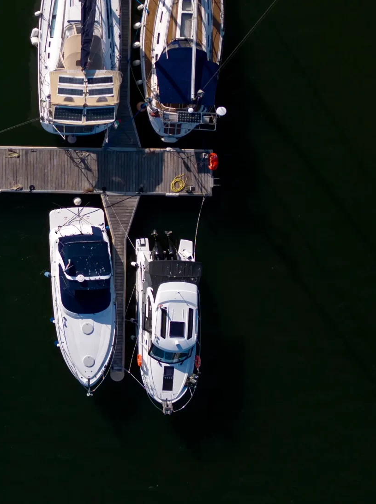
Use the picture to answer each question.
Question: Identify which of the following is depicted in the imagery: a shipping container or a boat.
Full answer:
Of the two, only a boat appears.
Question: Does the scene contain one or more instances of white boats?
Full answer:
Yes, a white boat can be made out from above.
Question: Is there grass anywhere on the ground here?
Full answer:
No, grass can't be seen anywhere here.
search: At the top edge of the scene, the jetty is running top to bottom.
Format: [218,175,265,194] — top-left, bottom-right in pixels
[100,0,142,149]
